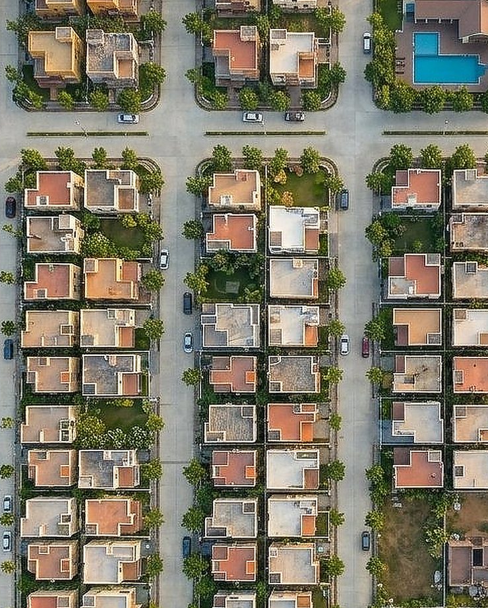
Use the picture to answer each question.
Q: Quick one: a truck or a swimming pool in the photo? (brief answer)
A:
swimming pool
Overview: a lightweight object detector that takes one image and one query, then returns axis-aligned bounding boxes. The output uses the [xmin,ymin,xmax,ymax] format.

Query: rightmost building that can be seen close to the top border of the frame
[414,0,488,44]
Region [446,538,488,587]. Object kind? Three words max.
house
